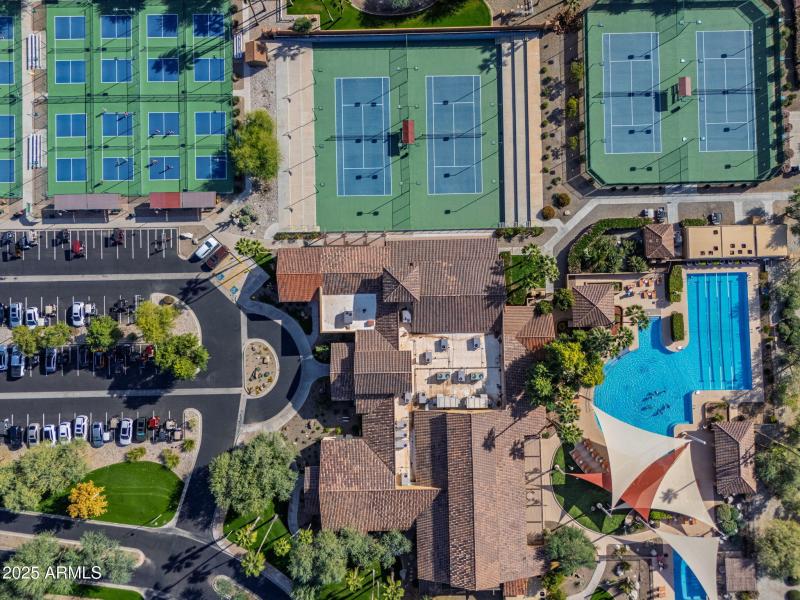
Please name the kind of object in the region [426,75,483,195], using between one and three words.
tennis court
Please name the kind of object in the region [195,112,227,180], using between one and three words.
sports court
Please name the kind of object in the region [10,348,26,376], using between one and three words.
vehicle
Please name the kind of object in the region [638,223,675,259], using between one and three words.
building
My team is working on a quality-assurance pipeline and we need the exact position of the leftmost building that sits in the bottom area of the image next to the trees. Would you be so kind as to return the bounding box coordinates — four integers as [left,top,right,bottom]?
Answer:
[277,238,555,598]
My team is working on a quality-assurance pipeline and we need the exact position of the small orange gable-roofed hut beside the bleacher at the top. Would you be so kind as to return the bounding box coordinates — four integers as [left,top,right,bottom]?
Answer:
[245,41,269,68]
